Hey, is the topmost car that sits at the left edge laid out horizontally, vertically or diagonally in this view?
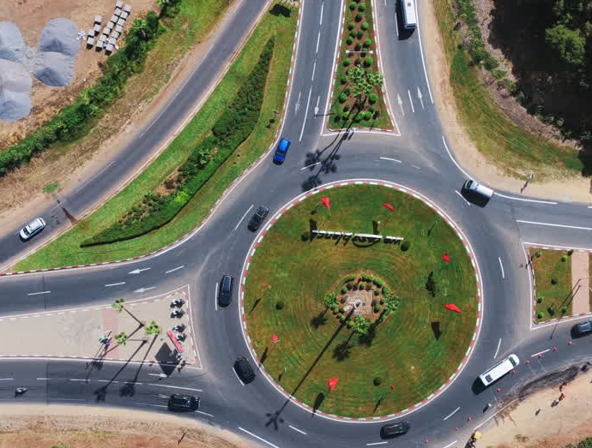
diagonally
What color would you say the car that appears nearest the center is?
black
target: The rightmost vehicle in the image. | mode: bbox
[572,319,592,337]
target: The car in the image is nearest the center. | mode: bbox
[248,206,268,233]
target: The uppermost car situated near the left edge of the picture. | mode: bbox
[19,218,48,240]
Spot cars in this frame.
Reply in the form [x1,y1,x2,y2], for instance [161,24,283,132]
[220,274,232,307]
[19,218,48,240]
[380,421,409,437]
[169,397,199,409]
[572,319,592,337]
[273,137,291,165]
[248,206,268,233]
[235,356,254,384]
